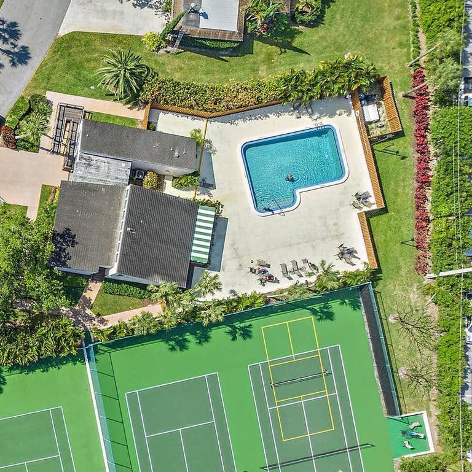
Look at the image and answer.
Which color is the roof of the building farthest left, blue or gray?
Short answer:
gray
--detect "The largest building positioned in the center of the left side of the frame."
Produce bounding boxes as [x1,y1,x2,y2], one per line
[51,119,199,288]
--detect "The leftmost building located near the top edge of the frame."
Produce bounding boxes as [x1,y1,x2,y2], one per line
[170,0,246,43]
